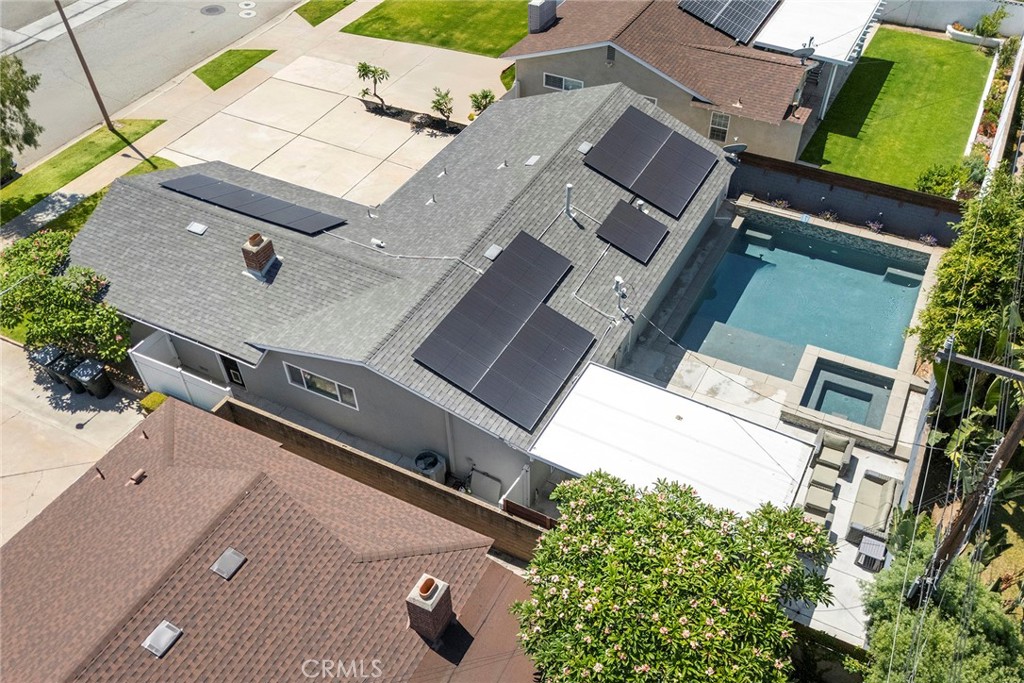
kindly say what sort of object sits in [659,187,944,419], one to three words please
swimming pool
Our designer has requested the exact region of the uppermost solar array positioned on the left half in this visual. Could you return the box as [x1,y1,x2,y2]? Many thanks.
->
[162,173,345,235]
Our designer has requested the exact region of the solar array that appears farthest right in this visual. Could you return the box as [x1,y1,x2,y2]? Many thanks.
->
[681,0,775,39]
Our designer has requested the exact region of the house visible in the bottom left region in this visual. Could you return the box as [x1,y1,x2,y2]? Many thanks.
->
[0,395,495,683]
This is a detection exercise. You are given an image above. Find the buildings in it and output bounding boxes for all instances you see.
[54,83,737,504]
[0,395,495,683]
